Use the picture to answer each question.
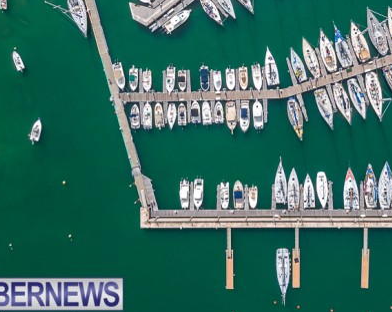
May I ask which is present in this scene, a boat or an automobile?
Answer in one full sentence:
Visible in the photo is a boat.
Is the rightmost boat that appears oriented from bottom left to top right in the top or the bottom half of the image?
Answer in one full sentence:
You can find the rightmost boat that appears oriented from bottom left to top right in the top half.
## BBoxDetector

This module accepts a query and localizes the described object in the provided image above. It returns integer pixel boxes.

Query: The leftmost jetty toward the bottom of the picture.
[132,167,159,210]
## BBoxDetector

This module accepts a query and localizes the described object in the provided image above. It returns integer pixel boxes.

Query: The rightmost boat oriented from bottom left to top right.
[165,8,194,35]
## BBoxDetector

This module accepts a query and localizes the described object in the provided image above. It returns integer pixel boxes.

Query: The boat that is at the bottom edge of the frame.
[276,247,291,309]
